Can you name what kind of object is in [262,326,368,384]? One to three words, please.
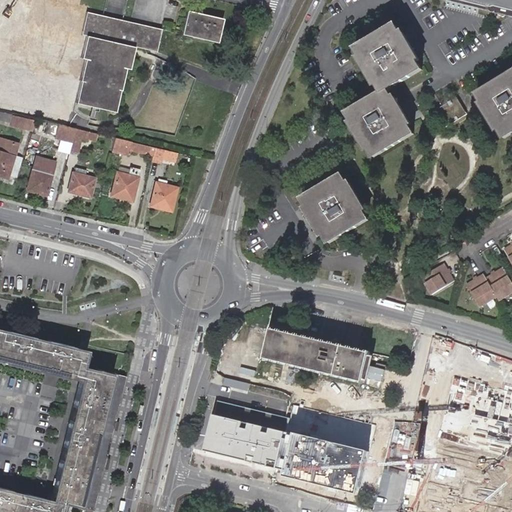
building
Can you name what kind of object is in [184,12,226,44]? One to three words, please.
house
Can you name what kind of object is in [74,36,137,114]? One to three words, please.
building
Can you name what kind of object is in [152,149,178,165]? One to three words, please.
house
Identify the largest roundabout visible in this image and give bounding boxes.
[174,260,224,310]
